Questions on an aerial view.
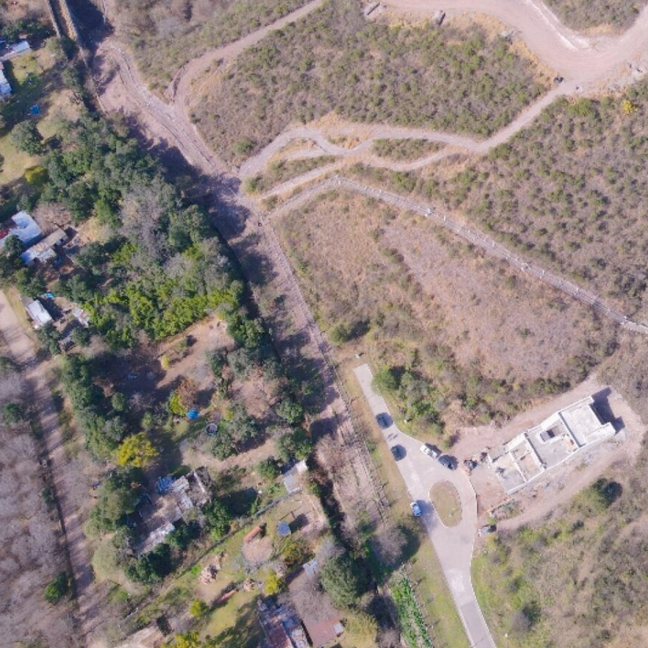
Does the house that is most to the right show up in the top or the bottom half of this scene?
bottom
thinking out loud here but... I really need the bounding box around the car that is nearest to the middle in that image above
[375,410,388,429]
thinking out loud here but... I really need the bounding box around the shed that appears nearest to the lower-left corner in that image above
[138,520,178,548]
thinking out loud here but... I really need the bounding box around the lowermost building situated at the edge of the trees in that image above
[259,600,310,648]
